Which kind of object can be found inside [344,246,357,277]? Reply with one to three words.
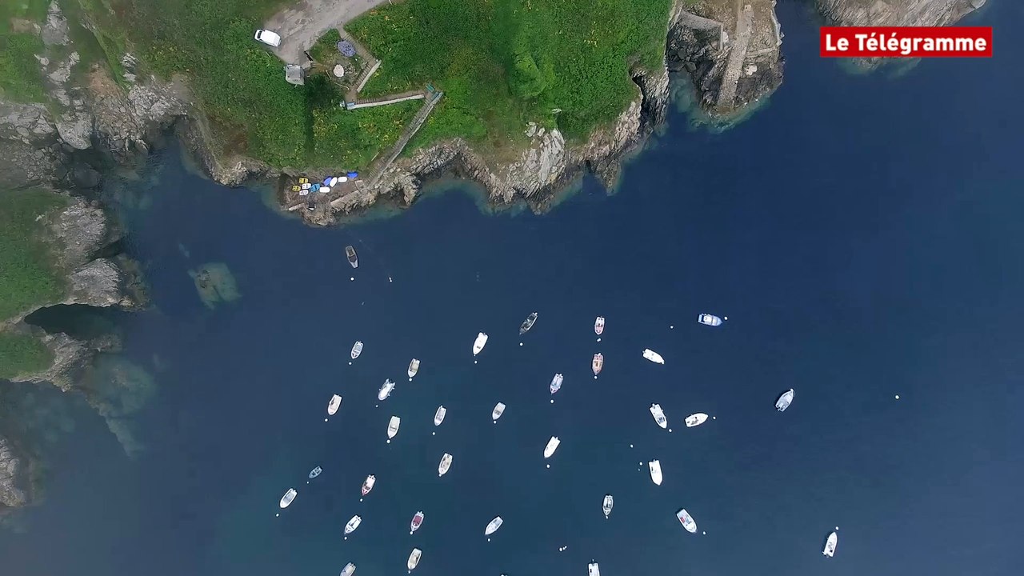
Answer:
boat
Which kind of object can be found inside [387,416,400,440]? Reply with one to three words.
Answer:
boat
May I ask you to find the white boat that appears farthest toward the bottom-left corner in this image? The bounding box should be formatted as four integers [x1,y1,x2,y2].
[278,489,297,513]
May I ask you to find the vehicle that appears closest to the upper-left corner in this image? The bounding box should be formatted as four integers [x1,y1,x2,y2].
[253,28,281,46]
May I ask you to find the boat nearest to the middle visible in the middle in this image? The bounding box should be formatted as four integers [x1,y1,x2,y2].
[520,313,538,336]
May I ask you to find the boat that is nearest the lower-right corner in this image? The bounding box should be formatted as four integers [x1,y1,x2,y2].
[825,530,839,558]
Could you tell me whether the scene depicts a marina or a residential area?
marina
